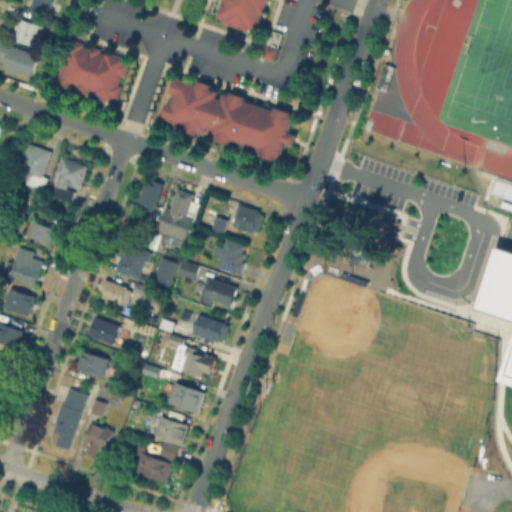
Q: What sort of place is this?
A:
sports ground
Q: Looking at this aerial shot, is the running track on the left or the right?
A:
right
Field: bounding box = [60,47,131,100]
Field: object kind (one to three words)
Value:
building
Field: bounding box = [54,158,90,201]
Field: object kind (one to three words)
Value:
house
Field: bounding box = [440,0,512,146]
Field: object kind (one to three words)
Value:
sports field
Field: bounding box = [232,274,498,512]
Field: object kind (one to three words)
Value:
baseball field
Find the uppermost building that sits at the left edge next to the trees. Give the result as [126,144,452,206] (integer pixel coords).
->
[16,20,44,47]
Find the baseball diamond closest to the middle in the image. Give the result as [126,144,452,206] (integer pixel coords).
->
[296,274,388,358]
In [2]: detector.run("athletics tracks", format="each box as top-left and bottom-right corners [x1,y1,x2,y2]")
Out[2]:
[370,0,512,182]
